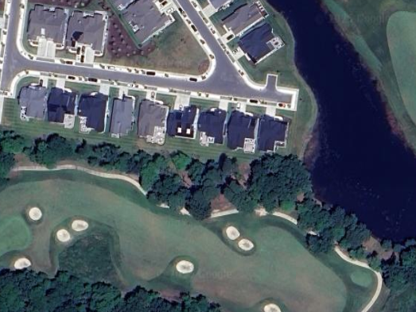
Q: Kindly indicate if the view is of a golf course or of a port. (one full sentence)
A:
The area seen from above is a golf course.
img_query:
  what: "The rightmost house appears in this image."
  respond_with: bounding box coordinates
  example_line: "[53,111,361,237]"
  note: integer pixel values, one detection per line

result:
[257,118,288,149]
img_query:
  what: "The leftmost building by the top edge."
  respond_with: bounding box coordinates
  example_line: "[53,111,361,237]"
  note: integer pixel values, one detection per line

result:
[28,8,65,48]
